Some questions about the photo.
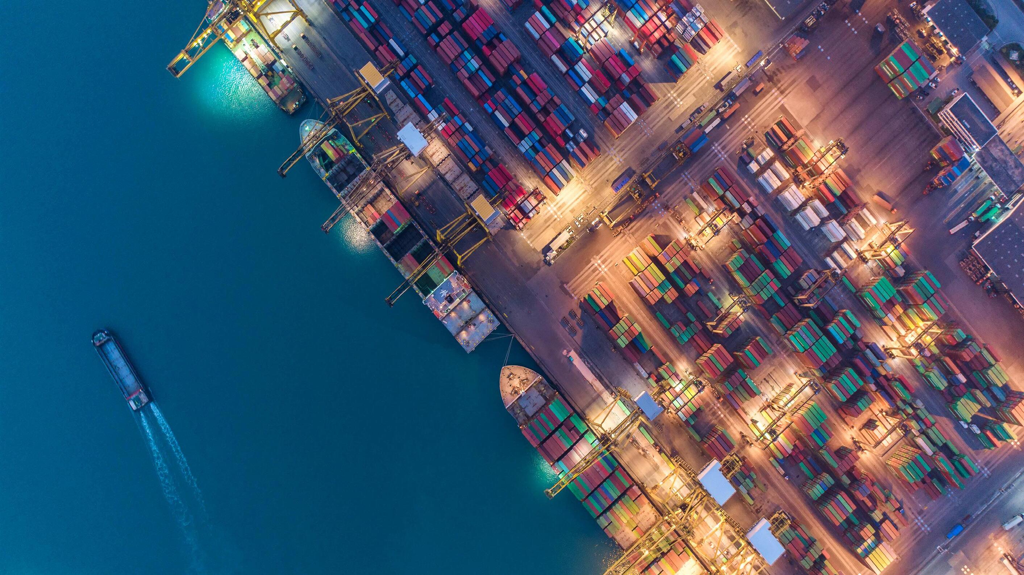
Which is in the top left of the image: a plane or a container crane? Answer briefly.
container crane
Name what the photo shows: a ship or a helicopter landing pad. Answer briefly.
ship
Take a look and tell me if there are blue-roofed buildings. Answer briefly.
Yes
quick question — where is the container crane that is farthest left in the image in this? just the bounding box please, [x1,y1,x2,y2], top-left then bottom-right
[165,0,302,81]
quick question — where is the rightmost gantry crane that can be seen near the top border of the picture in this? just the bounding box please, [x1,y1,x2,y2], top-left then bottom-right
[629,7,675,55]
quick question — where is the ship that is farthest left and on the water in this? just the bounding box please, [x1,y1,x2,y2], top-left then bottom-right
[94,328,152,411]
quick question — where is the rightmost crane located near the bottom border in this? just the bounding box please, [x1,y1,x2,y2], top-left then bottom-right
[689,501,791,575]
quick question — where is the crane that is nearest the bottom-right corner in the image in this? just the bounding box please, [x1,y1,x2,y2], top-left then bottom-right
[854,411,912,457]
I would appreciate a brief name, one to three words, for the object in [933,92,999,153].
building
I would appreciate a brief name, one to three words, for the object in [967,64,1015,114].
shed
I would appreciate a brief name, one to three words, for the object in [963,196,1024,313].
building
